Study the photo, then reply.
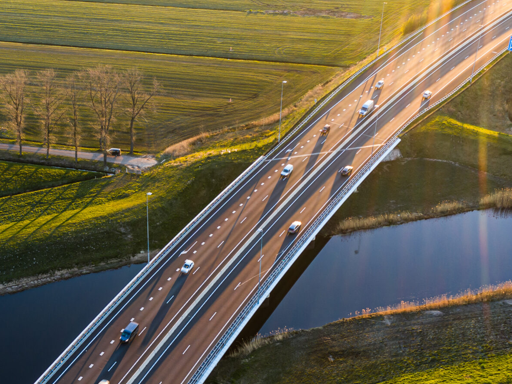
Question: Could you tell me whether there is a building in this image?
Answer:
No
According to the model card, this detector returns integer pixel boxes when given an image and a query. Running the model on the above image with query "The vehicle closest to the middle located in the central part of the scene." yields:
[280,163,293,177]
